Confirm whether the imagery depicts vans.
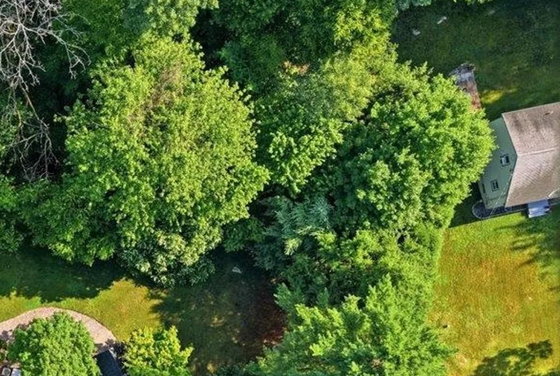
No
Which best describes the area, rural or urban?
rural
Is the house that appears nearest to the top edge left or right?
right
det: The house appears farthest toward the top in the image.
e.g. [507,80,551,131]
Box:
[476,104,560,210]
